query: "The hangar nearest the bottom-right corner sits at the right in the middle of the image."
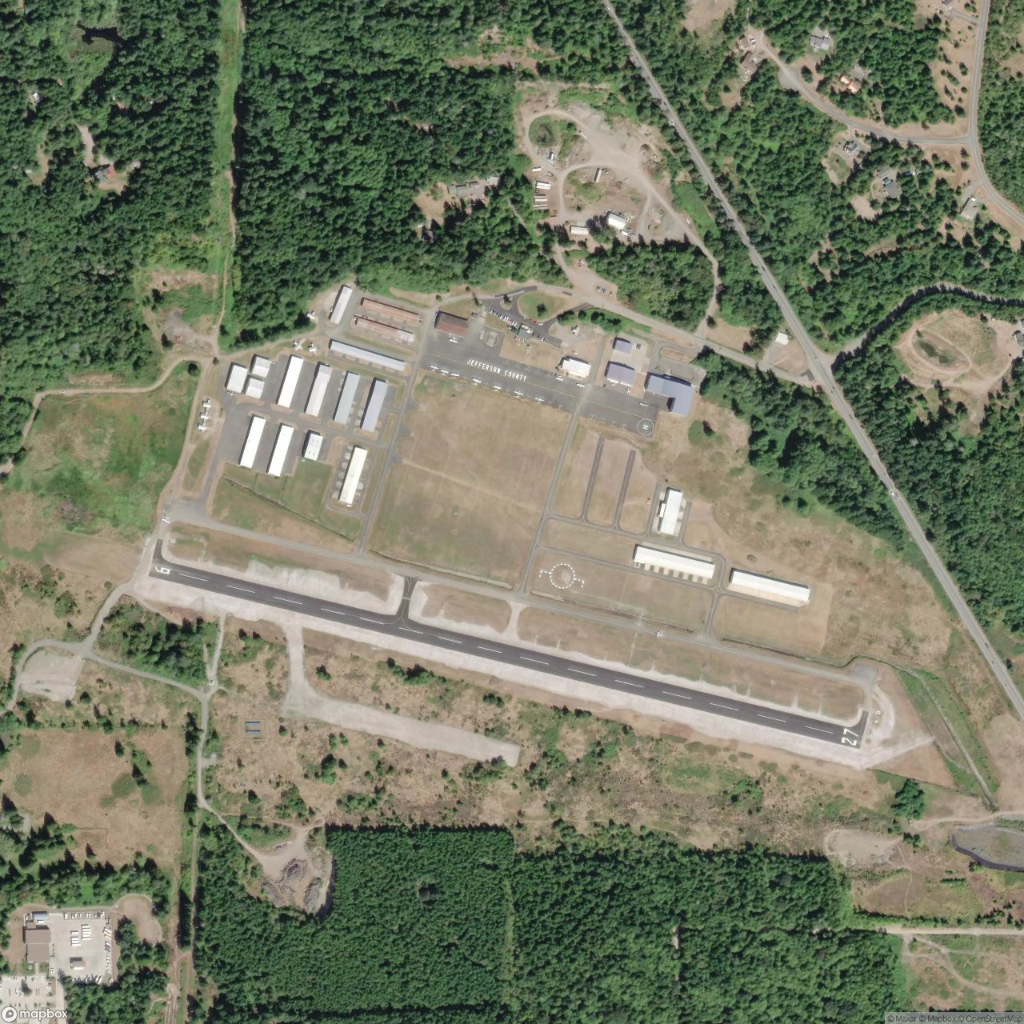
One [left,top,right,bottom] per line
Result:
[731,570,811,601]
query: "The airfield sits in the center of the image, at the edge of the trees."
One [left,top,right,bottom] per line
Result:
[149,239,878,749]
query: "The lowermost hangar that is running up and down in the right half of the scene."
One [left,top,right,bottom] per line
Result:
[660,489,683,535]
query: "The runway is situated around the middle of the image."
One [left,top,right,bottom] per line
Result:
[149,459,868,749]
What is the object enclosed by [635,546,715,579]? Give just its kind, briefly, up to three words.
hangar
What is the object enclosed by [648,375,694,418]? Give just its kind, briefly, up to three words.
hangar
